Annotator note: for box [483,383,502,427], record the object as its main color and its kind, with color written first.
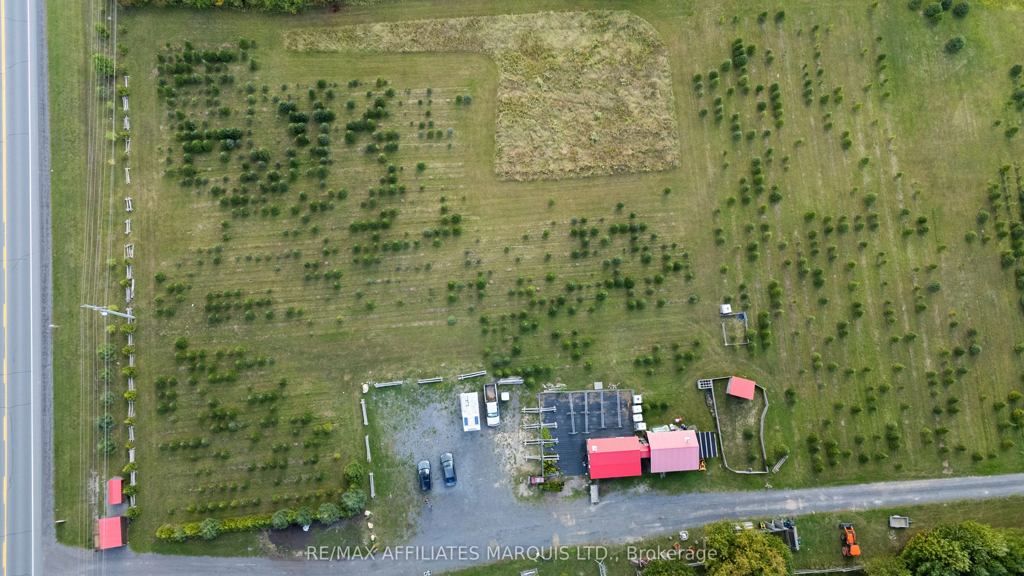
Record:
white vehicle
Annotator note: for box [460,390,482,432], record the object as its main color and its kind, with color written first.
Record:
white trailer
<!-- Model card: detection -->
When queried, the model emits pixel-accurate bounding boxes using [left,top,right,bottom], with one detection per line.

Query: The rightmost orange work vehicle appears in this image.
[842,524,863,558]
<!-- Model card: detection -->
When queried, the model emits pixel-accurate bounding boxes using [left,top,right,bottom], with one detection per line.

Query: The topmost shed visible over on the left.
[109,478,132,505]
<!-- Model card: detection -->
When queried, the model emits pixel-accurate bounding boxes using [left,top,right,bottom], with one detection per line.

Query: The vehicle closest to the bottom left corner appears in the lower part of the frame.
[416,460,434,491]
